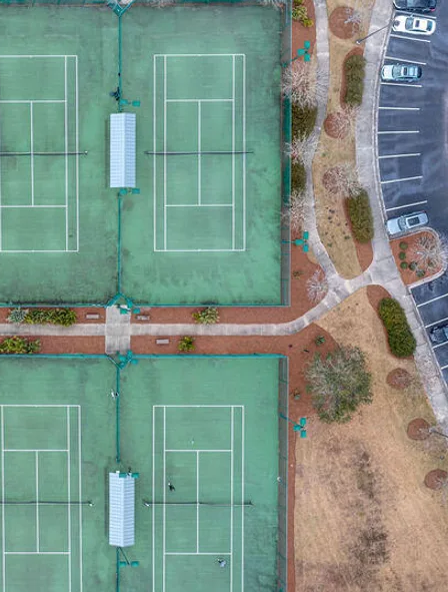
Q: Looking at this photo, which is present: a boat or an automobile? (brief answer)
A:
automobile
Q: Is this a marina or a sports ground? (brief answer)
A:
sports ground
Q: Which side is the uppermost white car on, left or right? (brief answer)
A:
right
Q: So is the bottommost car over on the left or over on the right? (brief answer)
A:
right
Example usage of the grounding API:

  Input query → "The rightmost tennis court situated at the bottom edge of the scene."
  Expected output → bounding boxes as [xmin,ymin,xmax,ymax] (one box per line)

[117,356,279,592]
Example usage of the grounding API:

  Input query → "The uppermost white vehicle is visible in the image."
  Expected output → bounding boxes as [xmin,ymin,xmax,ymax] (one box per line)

[389,15,434,37]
